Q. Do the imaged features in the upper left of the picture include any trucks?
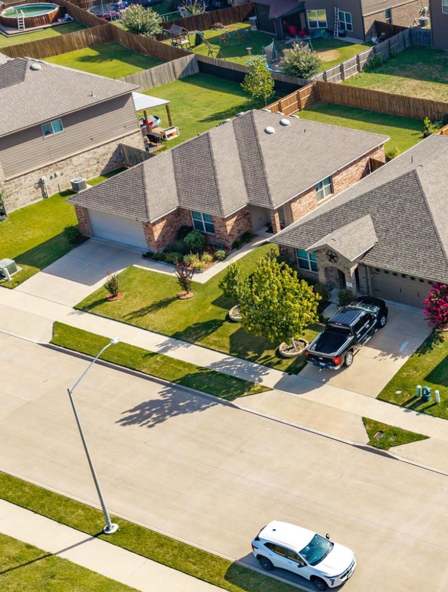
No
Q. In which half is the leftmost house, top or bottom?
top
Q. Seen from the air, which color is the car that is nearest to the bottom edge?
white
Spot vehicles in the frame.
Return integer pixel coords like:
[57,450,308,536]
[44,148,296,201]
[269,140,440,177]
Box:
[251,520,355,591]
[304,297,394,369]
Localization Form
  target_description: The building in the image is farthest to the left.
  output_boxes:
[0,44,145,213]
